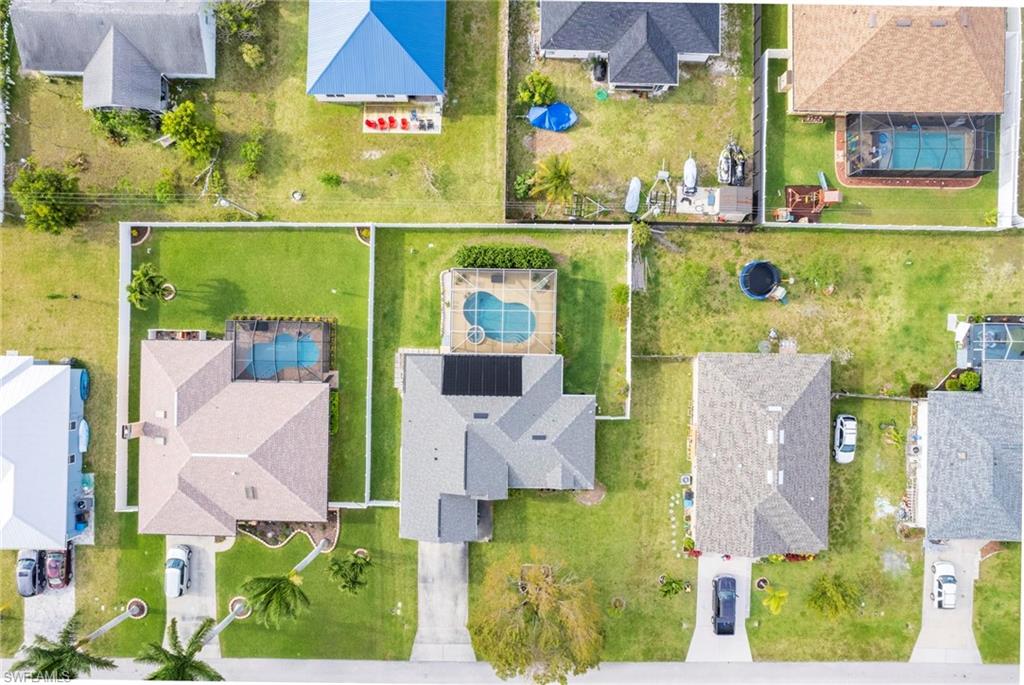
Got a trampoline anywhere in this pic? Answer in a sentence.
Yes, this view includes a trampoline.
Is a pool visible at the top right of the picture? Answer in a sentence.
Yes, a pool is visible at the top right of the picture.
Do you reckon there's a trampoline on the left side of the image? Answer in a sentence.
No, there's no trampoline to be seen on the left side of the image.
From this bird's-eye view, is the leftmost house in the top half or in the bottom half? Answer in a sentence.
It is in the bottom half that the leftmost house appears.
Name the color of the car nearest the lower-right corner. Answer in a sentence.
In this view, the car nearest the lower-right corner is white.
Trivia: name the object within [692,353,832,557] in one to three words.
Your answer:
house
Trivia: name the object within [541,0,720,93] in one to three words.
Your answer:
house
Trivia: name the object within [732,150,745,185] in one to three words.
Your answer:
boat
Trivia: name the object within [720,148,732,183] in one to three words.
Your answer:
boat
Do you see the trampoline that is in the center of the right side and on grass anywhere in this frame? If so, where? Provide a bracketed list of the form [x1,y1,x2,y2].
[742,260,783,300]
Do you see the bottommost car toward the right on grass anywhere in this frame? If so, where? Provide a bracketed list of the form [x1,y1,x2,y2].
[831,413,858,462]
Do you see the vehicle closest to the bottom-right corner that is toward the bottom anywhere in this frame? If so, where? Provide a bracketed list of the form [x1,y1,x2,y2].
[929,560,959,609]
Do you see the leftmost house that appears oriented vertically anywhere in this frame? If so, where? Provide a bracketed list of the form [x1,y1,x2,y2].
[0,348,86,550]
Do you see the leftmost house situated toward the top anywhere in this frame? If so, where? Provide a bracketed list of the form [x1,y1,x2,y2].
[9,0,215,113]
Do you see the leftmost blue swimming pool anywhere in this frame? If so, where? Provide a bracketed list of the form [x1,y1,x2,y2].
[246,331,321,381]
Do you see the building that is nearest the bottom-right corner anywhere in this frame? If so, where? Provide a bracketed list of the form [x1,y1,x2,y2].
[913,361,1024,541]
